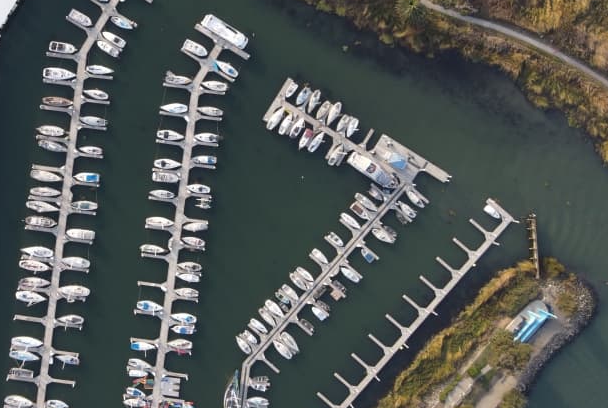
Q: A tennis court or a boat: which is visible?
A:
boat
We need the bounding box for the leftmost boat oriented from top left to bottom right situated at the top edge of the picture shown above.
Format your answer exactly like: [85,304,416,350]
[67,7,91,24]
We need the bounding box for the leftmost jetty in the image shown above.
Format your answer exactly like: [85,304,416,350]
[3,0,153,408]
